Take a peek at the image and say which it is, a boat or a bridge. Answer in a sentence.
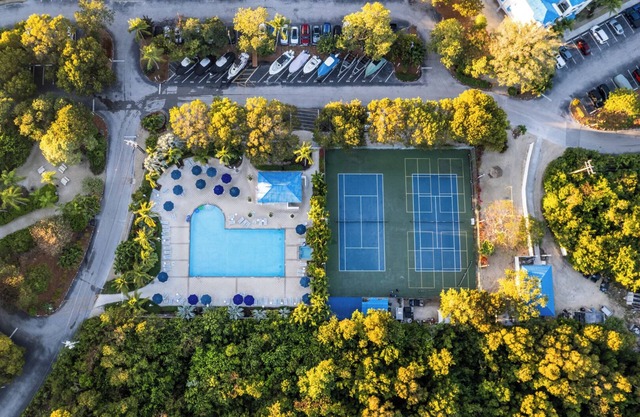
Looking from above, you can make out a boat.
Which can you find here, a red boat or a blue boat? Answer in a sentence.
The image shows a blue boat.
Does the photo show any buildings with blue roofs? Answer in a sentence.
Yes, there's a building with a blue roof down there.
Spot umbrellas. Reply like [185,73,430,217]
[172,184,184,196]
[229,186,241,198]
[191,165,203,177]
[213,184,224,195]
[221,173,232,185]
[243,294,256,306]
[299,292,311,304]
[299,276,311,288]
[195,178,206,189]
[231,293,244,306]
[187,293,199,305]
[152,292,164,304]
[163,201,174,212]
[206,168,217,178]
[295,224,306,235]
[171,169,182,180]
[201,293,212,305]
[157,271,169,283]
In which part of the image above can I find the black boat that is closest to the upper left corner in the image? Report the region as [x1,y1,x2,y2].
[176,50,204,74]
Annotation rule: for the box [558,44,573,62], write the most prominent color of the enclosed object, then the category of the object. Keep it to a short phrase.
blue car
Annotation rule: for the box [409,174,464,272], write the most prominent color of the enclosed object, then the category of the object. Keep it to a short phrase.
blue tennis court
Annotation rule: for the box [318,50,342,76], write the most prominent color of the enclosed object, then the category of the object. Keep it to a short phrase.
blue boat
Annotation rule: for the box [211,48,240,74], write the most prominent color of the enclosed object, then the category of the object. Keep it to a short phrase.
black boat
